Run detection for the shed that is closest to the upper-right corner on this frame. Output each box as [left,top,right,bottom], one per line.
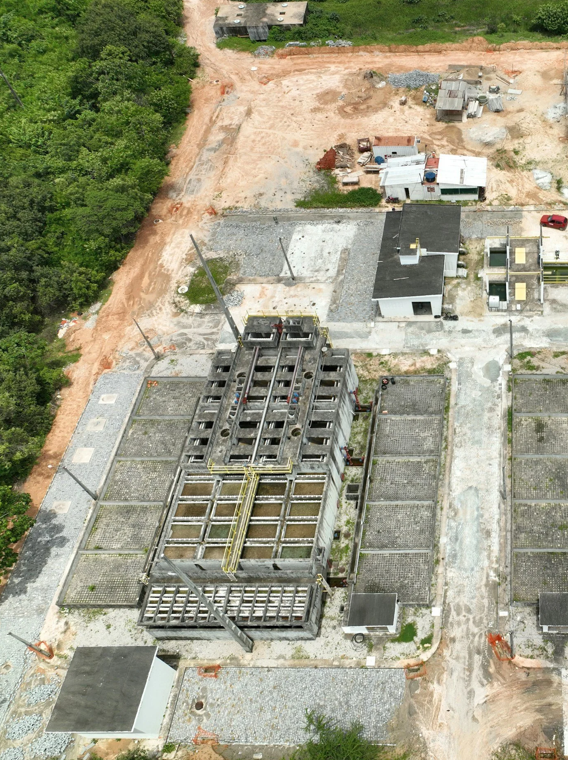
[435,80,467,127]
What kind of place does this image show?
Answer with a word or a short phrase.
industrial area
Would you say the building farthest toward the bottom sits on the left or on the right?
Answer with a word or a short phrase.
left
